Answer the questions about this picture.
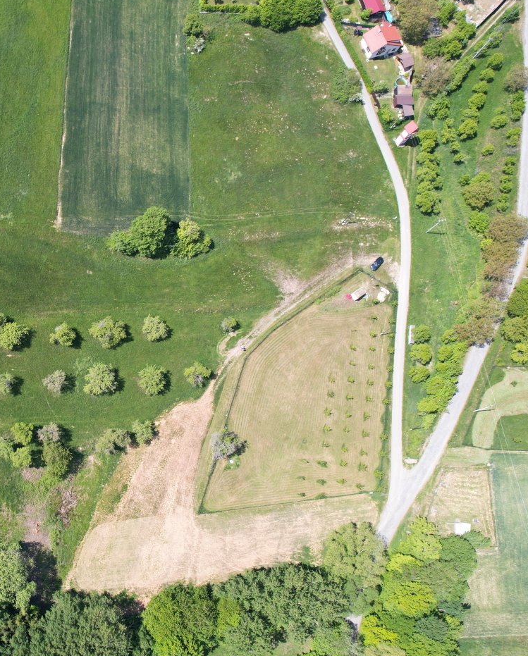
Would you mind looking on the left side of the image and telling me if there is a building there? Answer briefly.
No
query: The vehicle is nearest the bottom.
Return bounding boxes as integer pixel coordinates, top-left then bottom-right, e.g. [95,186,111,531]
[370,256,384,271]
